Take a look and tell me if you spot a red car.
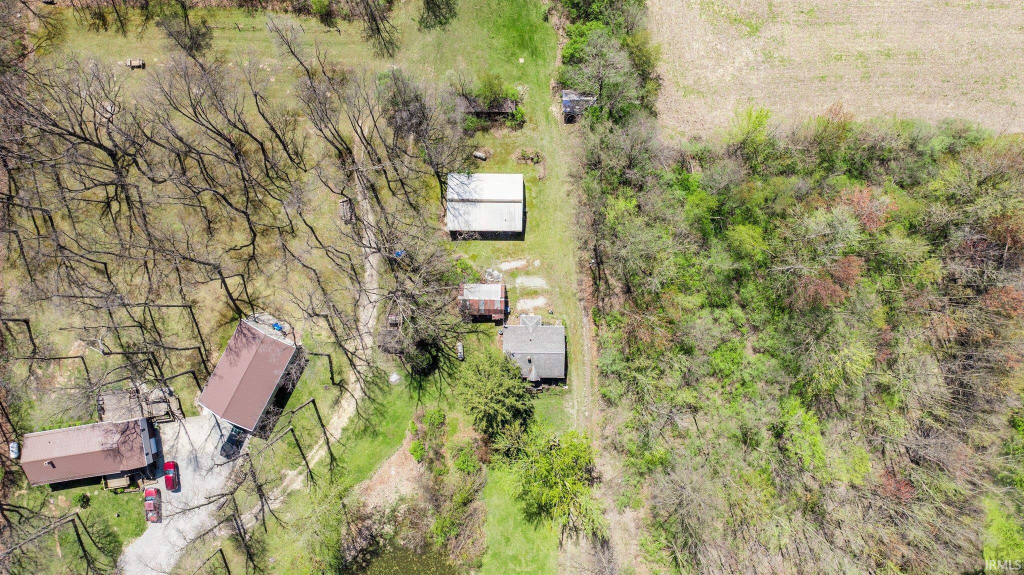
Yes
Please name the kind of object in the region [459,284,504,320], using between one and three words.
shed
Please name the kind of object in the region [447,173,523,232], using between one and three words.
barn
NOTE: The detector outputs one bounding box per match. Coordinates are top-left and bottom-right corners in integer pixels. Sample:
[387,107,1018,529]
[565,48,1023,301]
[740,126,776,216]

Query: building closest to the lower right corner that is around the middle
[503,315,566,382]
